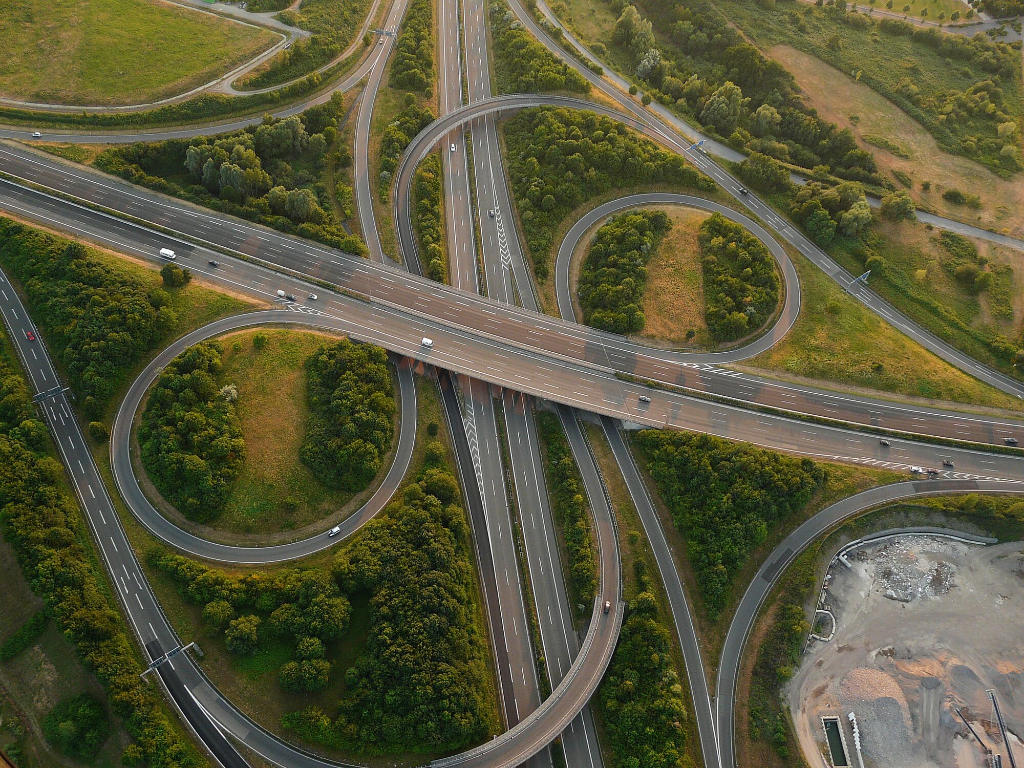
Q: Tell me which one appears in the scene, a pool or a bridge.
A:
bridge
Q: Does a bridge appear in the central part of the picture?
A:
Yes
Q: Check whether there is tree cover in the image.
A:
Yes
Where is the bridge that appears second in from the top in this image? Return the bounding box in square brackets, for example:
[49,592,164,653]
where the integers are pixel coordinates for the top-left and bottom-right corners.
[331,249,662,428]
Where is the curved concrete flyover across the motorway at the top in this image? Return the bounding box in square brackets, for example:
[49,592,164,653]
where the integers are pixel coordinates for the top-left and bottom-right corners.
[402,93,541,167]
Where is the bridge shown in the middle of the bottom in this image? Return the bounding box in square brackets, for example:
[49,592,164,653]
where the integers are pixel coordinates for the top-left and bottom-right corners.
[417,595,622,768]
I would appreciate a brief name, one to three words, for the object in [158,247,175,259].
vehicle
